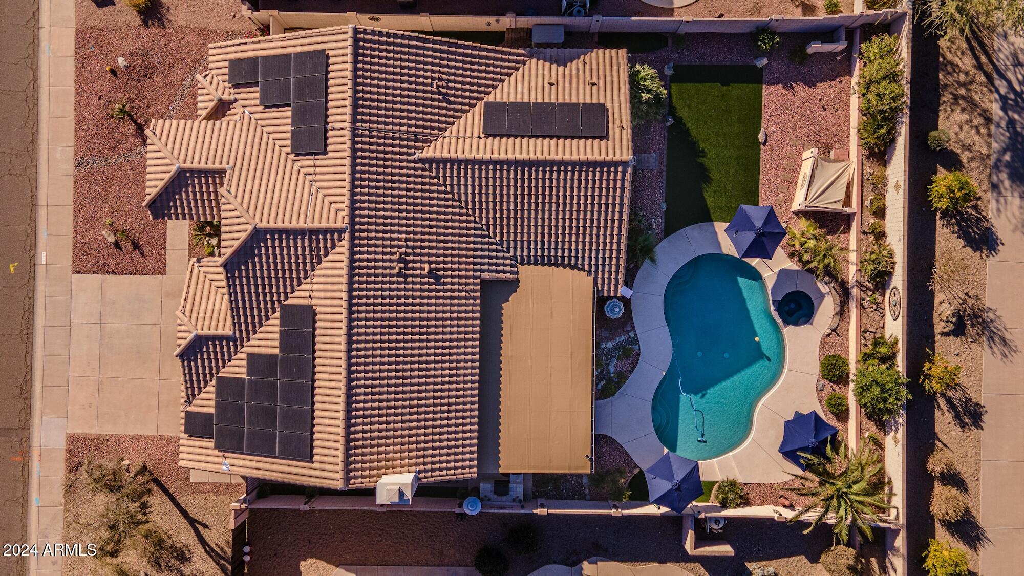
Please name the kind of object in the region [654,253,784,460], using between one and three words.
swimming pool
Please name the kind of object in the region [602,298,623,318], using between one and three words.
fountain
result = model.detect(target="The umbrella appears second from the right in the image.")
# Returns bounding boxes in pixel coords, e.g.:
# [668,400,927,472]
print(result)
[725,205,785,260]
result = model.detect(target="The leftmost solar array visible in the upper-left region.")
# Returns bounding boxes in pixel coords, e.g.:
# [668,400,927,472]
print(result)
[228,50,326,154]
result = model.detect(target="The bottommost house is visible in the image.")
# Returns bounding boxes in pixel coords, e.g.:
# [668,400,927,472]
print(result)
[141,22,636,505]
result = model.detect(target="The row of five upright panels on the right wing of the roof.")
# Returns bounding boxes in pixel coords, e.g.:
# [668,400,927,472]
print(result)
[483,101,606,136]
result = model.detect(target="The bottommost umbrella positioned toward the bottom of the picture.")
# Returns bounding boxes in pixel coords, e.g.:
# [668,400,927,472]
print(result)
[643,449,701,512]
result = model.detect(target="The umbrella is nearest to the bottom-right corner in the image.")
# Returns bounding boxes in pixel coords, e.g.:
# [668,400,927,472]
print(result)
[777,407,831,467]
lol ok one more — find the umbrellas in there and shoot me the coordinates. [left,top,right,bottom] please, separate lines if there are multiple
[725,205,785,260]
[643,449,701,512]
[777,407,831,467]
